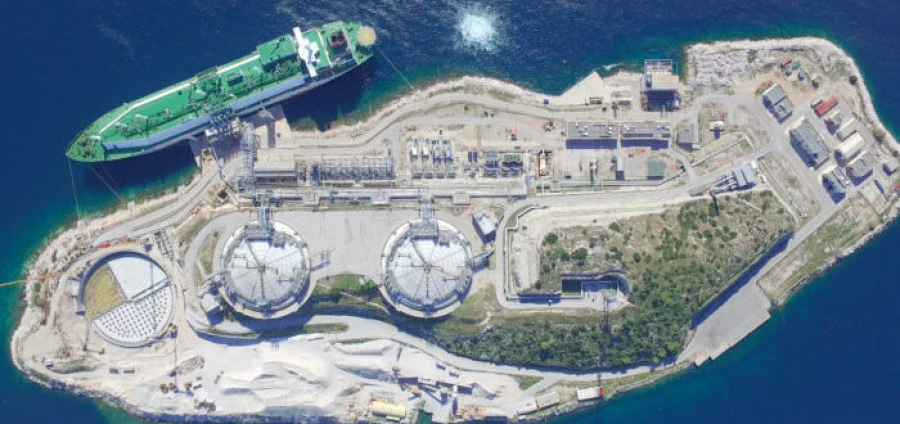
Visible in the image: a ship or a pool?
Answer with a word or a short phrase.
ship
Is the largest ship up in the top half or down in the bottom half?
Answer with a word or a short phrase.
top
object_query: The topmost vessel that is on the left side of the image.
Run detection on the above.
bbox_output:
[65,19,376,163]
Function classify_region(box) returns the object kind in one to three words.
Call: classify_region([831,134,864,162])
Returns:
shed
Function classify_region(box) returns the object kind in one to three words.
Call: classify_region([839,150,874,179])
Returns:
building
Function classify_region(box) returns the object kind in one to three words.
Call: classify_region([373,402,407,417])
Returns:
shed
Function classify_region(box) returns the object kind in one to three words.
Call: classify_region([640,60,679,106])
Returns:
building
